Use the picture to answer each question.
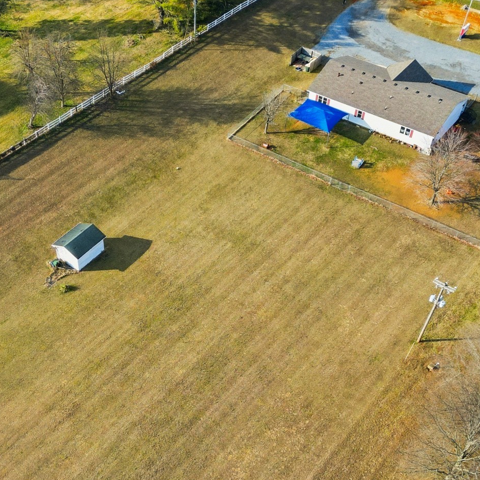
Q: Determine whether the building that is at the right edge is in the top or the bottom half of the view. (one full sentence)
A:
Seen from above, the building that is at the right edge lies in the top half of the view.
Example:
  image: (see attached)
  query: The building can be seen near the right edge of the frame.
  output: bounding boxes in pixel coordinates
[306,55,475,154]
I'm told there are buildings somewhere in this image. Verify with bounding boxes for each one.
[52,224,106,270]
[306,55,475,154]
